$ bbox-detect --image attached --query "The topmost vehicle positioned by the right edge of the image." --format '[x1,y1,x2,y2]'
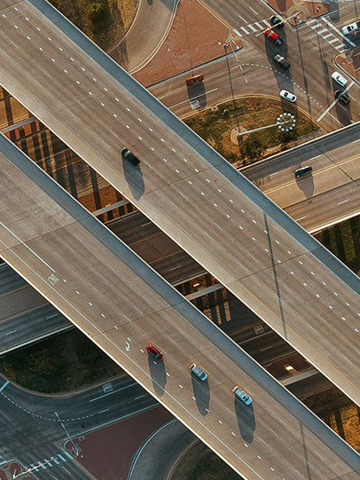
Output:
[344,20,360,32]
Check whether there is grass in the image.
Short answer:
Yes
